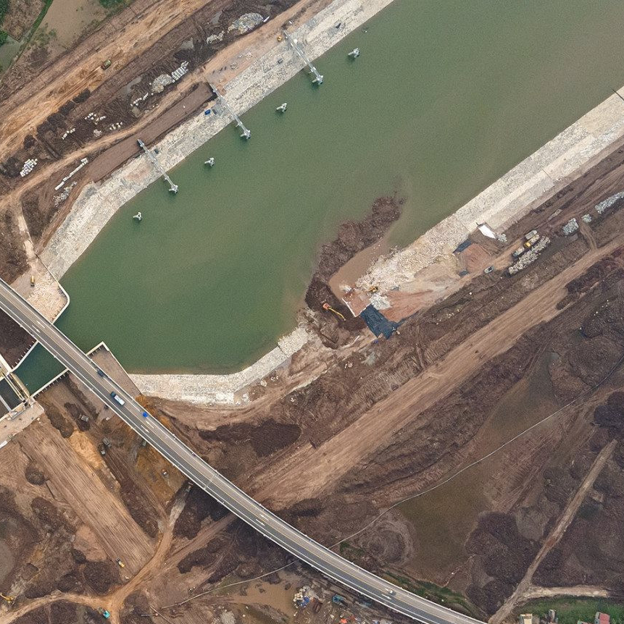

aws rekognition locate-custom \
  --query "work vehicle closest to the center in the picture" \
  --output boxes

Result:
[322,301,347,322]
